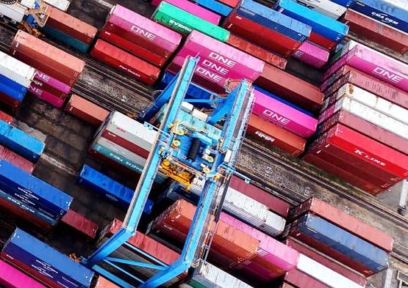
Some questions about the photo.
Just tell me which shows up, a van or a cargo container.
cargo container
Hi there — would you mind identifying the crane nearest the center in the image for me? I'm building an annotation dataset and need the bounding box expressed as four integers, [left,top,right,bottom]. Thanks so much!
[59,48,259,288]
